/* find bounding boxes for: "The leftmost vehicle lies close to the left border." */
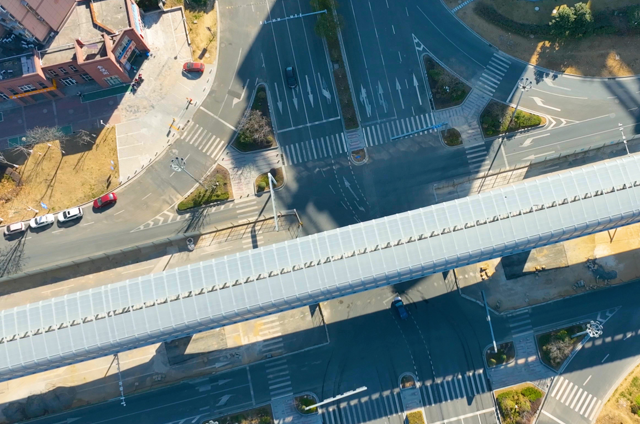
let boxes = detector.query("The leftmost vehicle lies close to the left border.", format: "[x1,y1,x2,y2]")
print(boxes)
[4,222,27,236]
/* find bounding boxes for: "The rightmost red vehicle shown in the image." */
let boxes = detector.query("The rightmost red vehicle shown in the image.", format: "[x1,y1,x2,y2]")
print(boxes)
[183,61,205,73]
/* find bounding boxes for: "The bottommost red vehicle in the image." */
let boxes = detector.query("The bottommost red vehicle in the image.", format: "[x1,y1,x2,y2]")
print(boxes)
[93,193,118,209]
